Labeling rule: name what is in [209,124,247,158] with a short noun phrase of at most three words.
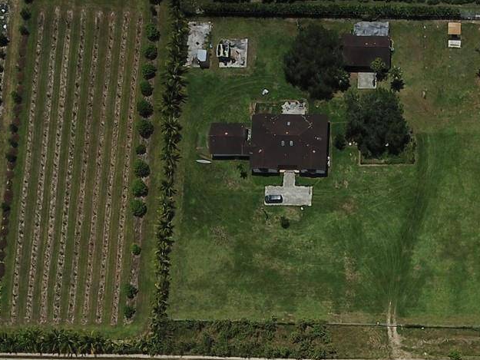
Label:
building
